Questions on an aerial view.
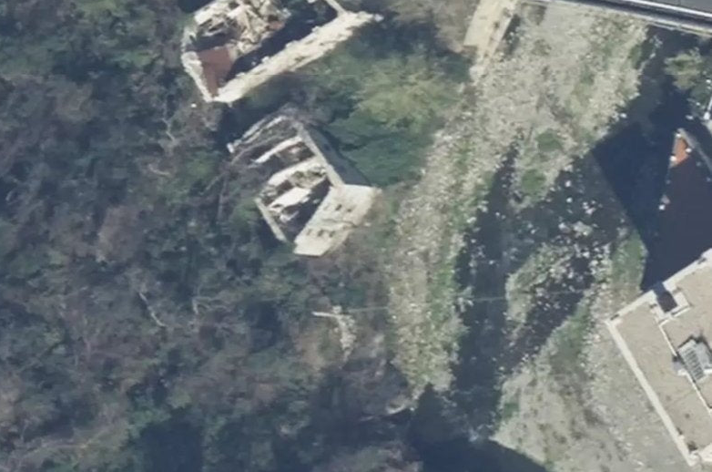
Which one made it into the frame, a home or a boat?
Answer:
home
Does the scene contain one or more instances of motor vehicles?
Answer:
No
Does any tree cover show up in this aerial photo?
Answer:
Yes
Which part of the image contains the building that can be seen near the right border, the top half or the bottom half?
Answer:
bottom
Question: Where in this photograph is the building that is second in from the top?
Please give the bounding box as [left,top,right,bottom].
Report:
[233,114,380,255]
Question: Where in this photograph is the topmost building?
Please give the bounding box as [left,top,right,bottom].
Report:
[182,0,383,104]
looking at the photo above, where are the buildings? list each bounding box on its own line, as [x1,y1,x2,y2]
[608,249,712,468]
[182,0,383,104]
[233,114,380,255]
